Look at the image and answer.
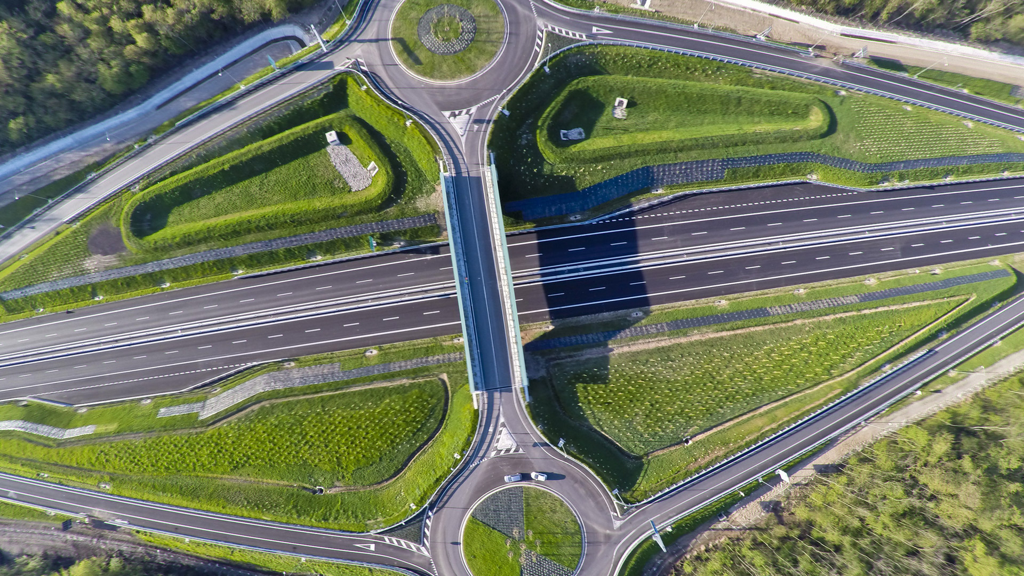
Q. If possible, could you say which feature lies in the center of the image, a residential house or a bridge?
bridge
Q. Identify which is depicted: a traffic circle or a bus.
traffic circle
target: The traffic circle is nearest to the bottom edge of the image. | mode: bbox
[372,384,635,576]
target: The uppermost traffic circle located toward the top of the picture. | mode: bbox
[323,0,589,176]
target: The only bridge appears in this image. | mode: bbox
[439,153,529,409]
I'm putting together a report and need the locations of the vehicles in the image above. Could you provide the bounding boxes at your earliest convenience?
[504,474,522,485]
[531,472,547,483]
